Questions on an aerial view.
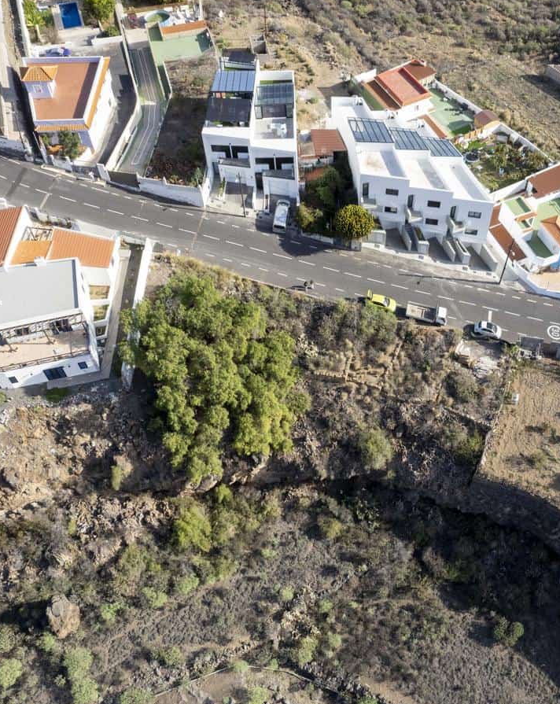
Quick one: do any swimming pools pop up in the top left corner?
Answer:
Yes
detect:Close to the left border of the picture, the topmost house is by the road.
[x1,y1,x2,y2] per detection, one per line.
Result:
[23,56,117,159]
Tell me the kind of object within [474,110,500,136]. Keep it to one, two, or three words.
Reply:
shed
